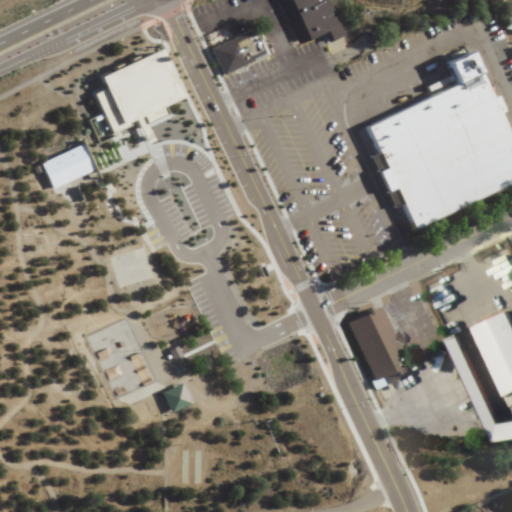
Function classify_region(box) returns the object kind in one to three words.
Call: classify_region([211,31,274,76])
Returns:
building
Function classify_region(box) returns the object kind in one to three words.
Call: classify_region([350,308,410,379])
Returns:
building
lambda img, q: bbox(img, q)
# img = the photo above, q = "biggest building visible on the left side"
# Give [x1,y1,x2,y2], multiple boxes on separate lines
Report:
[96,50,189,142]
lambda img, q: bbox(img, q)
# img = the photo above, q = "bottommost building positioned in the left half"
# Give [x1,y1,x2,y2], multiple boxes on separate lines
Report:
[163,385,194,412]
